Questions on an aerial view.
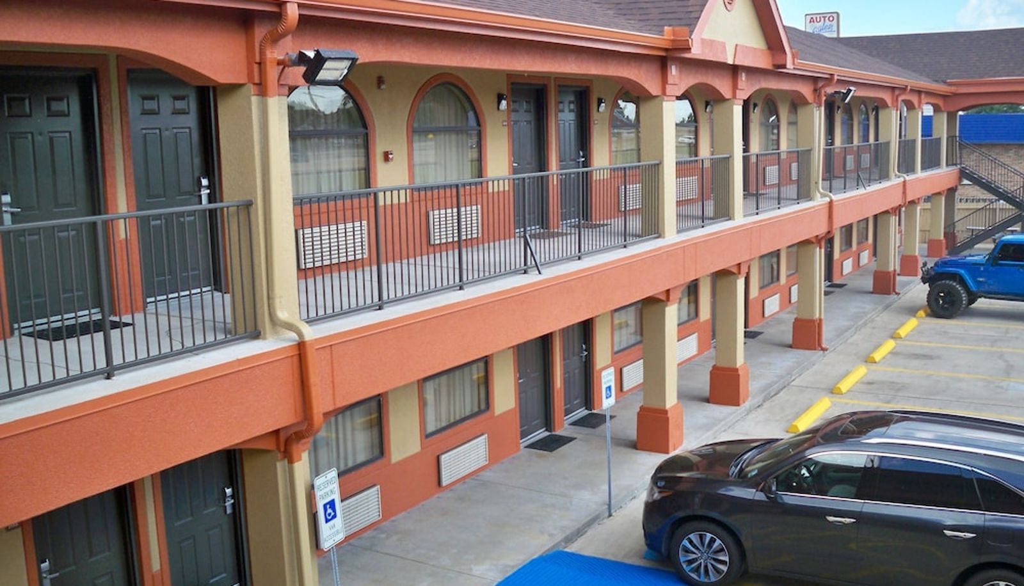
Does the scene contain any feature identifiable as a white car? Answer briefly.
No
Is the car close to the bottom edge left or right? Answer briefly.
right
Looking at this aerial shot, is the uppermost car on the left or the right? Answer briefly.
right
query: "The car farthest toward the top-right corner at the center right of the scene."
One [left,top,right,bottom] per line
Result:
[917,231,1024,319]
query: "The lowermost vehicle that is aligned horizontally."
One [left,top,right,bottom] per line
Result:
[638,406,1024,586]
